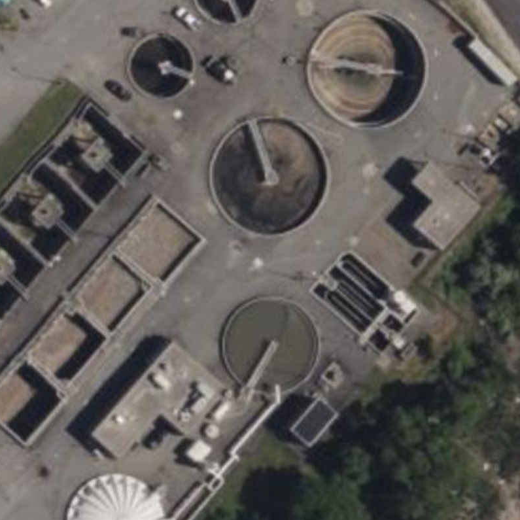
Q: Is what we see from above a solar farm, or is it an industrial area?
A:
industrial area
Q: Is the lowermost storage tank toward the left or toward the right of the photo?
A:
left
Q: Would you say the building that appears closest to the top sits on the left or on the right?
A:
right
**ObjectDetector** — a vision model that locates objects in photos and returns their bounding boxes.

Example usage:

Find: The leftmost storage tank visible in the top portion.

[129,34,194,99]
